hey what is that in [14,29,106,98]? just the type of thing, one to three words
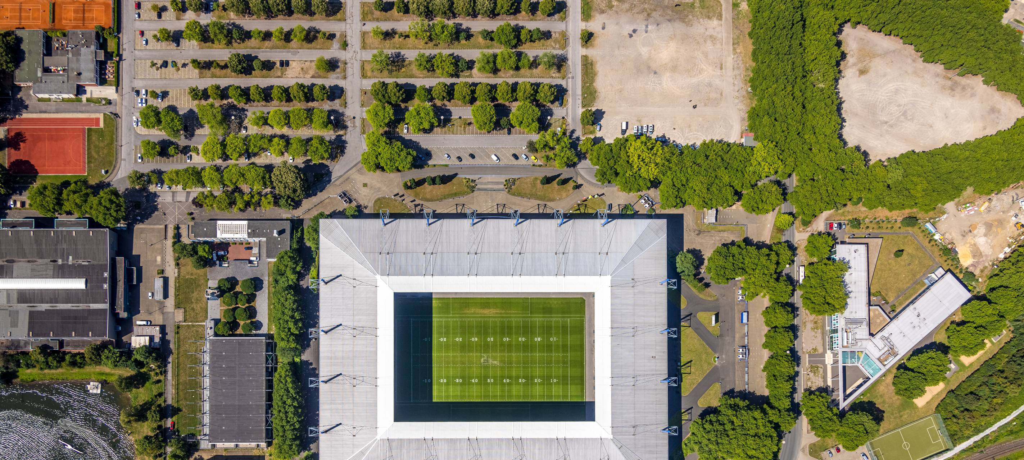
building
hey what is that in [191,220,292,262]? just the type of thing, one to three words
building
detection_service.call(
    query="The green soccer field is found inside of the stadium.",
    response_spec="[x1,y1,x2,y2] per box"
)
[396,298,585,422]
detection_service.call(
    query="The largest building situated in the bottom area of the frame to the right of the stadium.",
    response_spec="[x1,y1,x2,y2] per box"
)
[824,238,972,408]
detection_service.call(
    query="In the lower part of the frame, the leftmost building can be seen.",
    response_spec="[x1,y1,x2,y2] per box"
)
[0,219,118,356]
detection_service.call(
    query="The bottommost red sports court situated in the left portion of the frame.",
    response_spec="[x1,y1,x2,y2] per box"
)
[7,127,87,175]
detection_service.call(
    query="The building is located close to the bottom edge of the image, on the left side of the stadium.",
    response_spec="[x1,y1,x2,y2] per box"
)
[187,321,274,449]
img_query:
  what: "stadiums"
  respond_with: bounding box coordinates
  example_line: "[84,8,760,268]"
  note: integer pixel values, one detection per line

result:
[309,208,678,460]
